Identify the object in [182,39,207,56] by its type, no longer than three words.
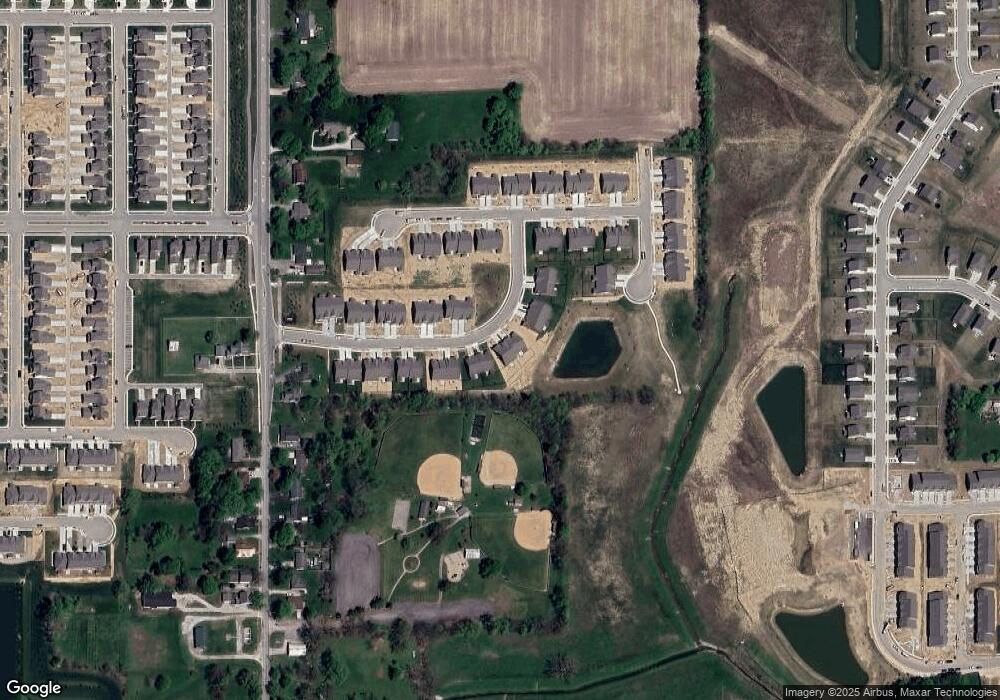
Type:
house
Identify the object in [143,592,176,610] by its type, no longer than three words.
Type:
barn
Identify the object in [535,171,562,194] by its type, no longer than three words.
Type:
house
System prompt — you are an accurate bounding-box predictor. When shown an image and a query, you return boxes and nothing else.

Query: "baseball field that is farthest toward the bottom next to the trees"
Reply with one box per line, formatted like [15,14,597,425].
[476,508,553,591]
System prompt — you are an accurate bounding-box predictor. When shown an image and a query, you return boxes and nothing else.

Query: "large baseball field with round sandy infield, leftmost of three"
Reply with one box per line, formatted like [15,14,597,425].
[374,411,465,502]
